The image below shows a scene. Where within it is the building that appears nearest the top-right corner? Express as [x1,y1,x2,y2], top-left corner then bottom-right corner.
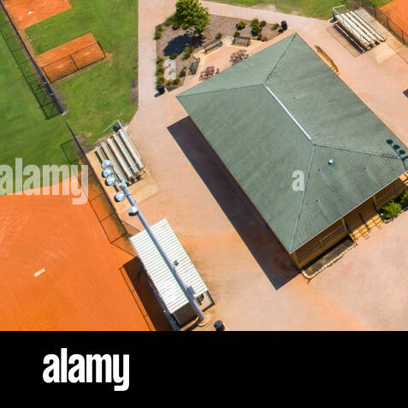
[175,30,408,265]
